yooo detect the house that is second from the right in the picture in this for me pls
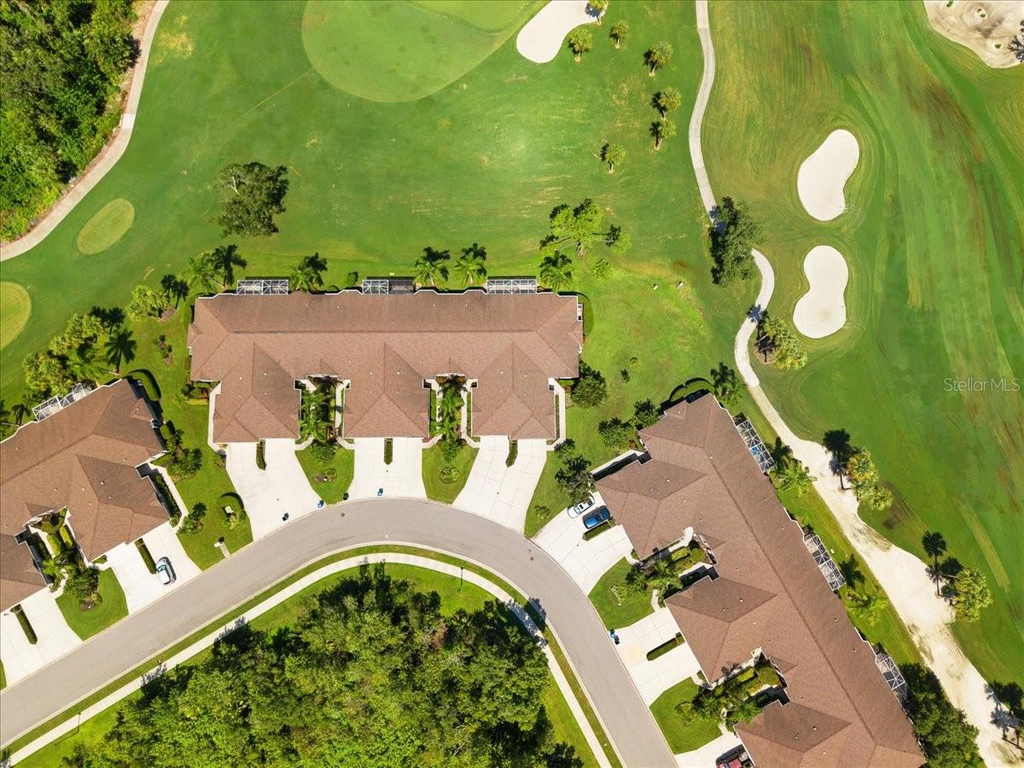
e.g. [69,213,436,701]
[188,290,586,444]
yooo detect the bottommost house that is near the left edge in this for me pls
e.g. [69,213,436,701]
[0,379,172,617]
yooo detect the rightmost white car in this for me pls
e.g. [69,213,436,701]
[567,493,597,517]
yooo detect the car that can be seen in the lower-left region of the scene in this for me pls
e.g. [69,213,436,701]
[155,556,175,586]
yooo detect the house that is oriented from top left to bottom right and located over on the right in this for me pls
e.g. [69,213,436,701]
[594,390,926,768]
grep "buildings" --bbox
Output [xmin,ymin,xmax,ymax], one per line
[0,379,172,617]
[594,390,926,768]
[188,290,586,444]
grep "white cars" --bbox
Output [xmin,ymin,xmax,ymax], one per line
[155,556,175,586]
[567,493,597,517]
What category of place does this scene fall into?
golf course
